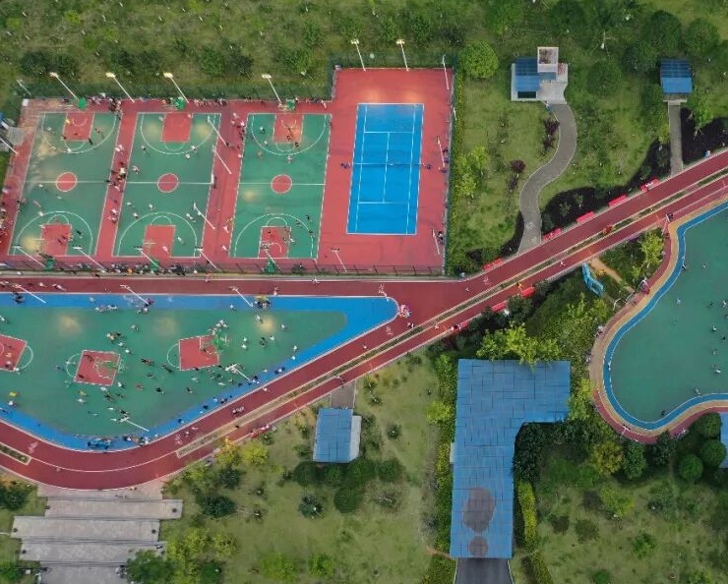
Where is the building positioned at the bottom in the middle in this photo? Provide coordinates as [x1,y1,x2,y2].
[314,409,365,464]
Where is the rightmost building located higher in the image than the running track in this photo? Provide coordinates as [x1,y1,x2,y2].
[660,60,693,104]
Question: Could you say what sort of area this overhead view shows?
sports ground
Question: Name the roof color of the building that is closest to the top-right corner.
blue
